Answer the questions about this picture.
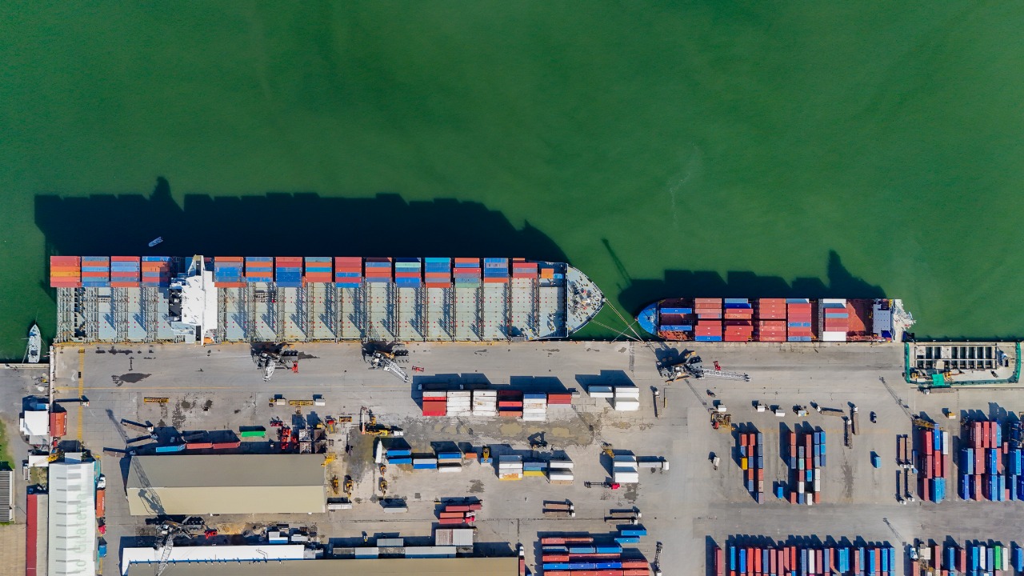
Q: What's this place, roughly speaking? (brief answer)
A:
port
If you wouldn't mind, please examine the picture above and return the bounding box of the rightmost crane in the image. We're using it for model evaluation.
[658,356,753,383]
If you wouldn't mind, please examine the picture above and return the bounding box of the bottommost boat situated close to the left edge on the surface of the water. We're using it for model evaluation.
[19,310,52,364]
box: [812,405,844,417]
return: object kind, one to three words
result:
vehicle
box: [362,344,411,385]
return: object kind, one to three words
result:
crane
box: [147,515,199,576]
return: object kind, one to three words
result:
crane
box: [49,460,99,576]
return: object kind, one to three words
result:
building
